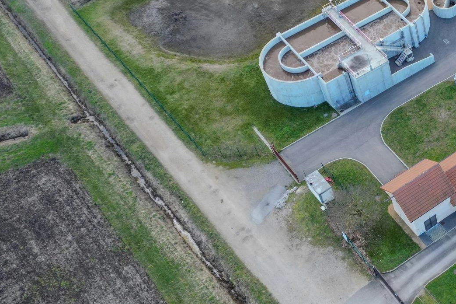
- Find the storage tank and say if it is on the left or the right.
right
